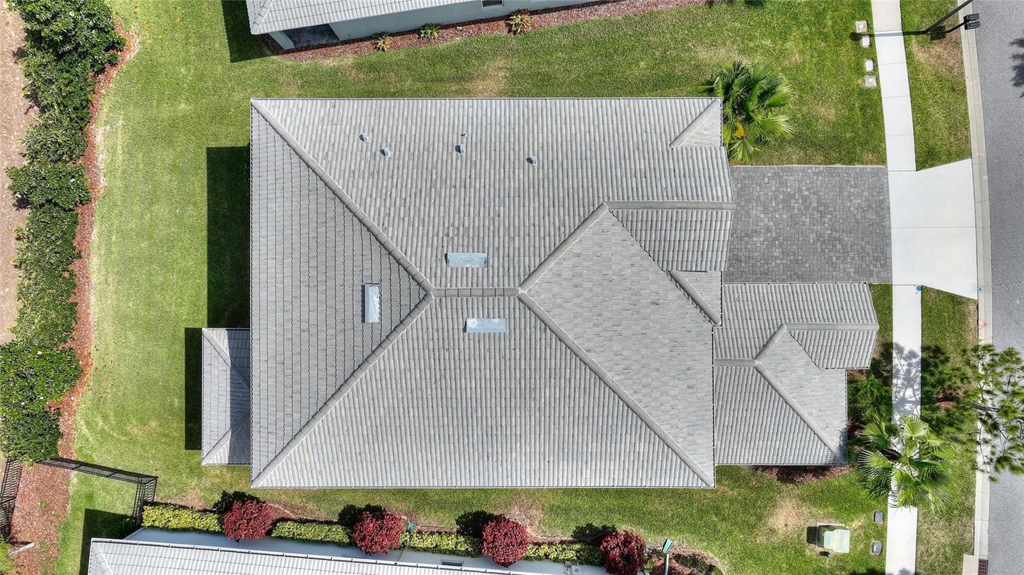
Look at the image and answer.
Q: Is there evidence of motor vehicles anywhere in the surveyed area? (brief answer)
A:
No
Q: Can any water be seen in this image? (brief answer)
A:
No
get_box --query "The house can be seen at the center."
[202,97,881,488]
